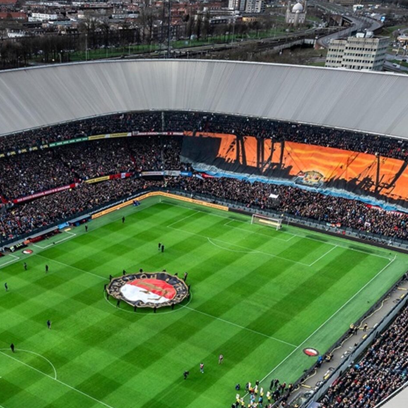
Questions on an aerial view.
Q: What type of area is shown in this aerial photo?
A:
sports ground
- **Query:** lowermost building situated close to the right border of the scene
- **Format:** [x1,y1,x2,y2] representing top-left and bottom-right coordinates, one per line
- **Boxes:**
[325,27,391,72]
